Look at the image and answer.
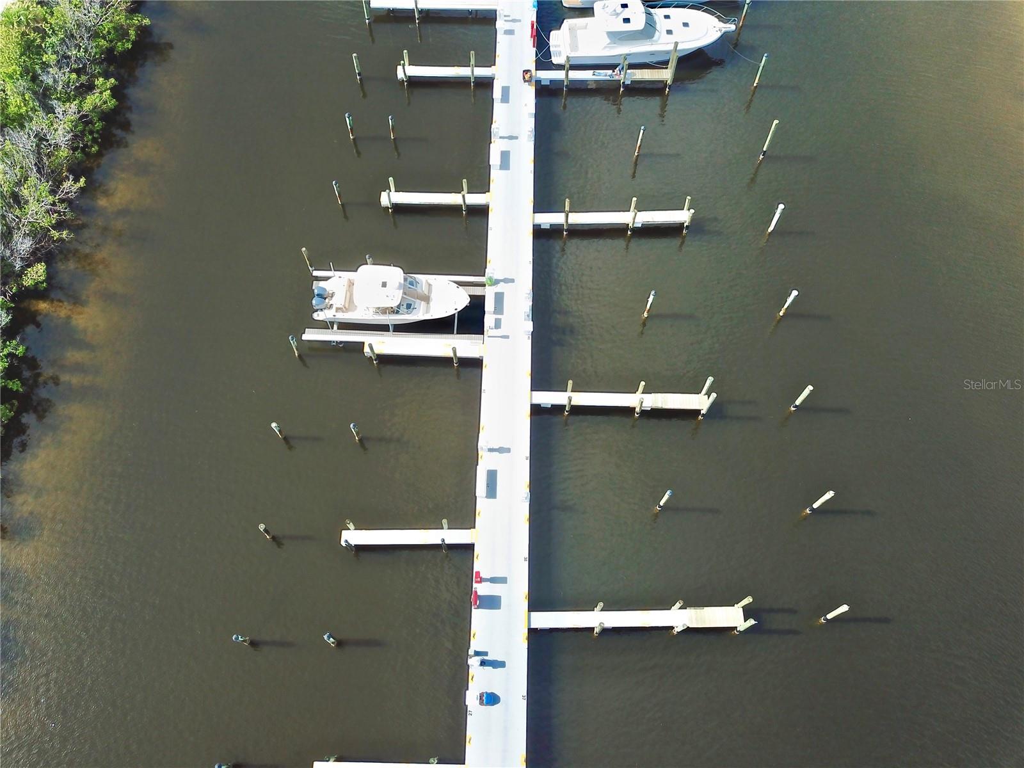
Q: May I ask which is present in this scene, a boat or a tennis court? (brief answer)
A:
boat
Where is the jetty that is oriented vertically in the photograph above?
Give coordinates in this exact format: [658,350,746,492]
[465,0,536,768]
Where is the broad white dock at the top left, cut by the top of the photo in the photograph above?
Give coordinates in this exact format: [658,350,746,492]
[371,0,498,21]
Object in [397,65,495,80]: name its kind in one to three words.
pier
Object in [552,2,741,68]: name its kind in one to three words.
boat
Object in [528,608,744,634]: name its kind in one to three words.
pier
